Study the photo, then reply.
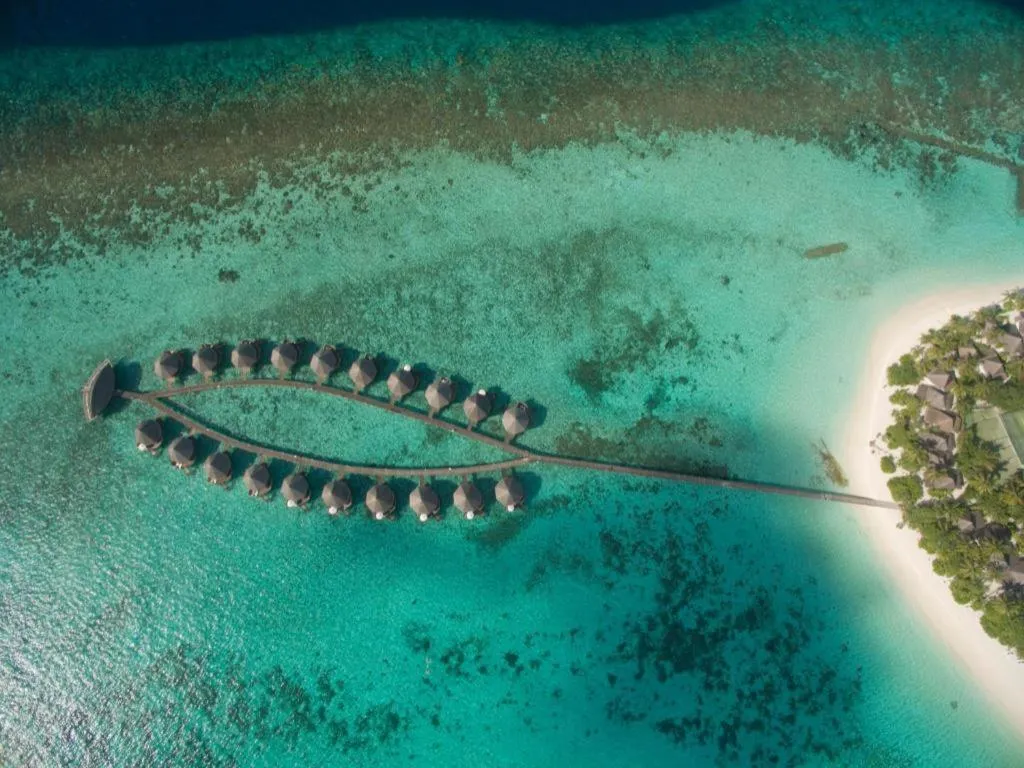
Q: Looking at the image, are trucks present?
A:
No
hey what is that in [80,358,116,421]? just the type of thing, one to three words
building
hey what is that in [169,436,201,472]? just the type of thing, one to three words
house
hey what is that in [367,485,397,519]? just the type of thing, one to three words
house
